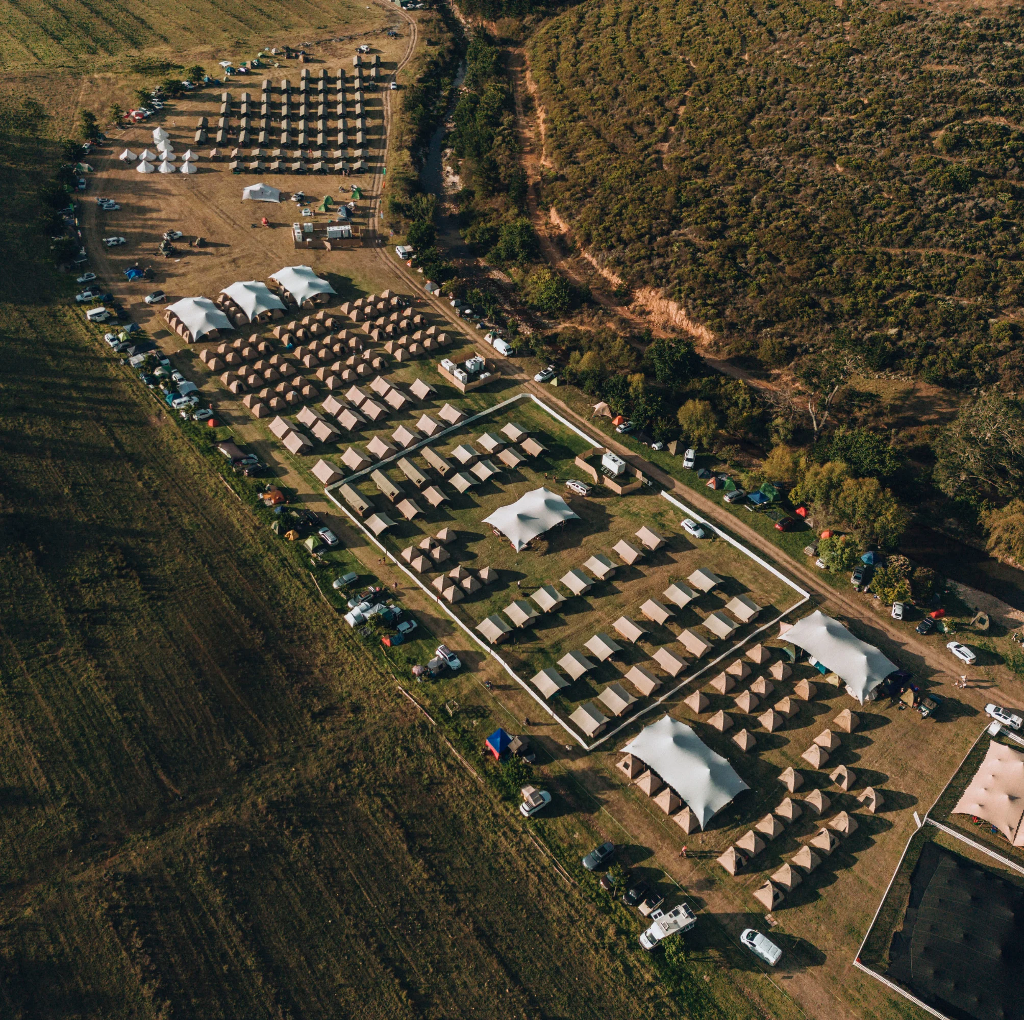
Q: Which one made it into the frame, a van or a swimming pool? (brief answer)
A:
van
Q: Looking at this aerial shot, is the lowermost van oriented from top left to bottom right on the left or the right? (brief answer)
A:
right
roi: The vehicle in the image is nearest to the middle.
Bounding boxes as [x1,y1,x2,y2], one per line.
[564,480,594,498]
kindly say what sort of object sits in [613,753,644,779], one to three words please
tent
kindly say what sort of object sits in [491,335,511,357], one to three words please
vehicle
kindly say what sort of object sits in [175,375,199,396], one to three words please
gazebo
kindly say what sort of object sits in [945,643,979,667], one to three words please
car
